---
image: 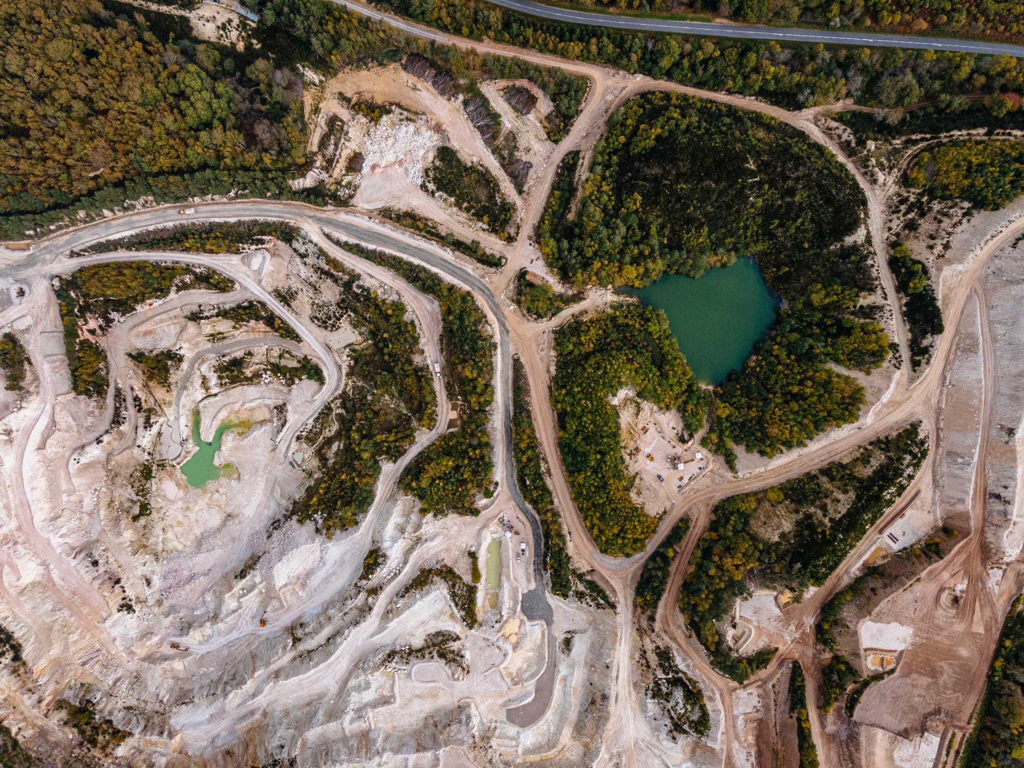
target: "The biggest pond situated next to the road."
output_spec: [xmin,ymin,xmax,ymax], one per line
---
[181,406,253,491]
